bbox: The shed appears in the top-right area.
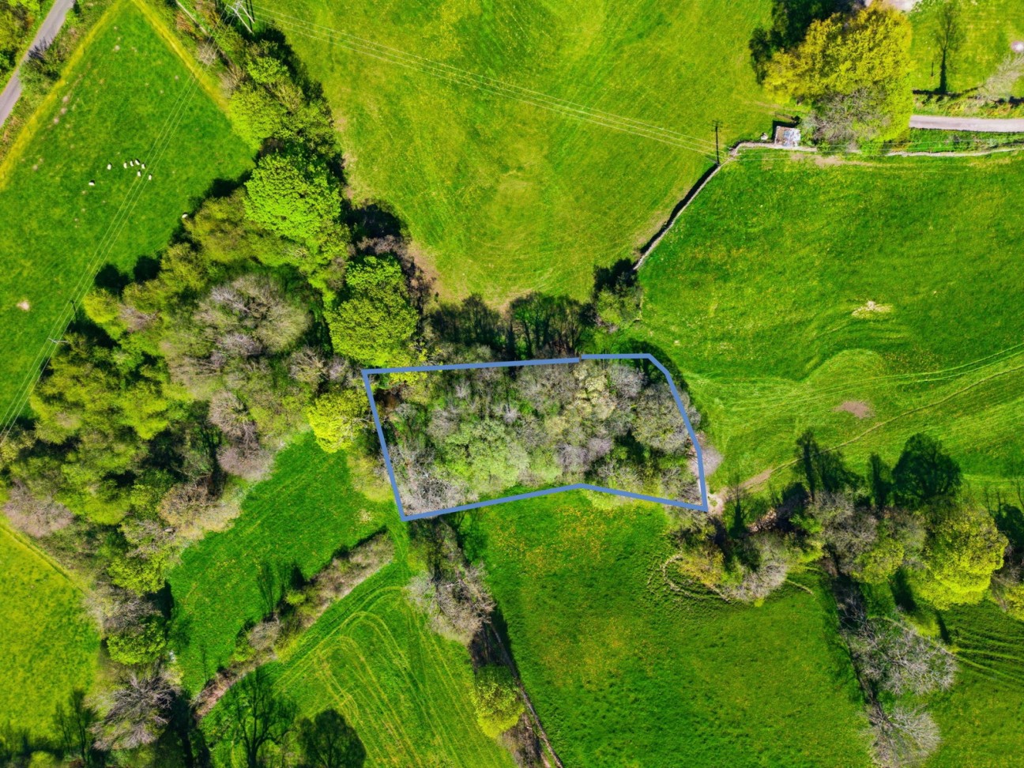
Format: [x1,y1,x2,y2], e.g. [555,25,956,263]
[772,127,801,149]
